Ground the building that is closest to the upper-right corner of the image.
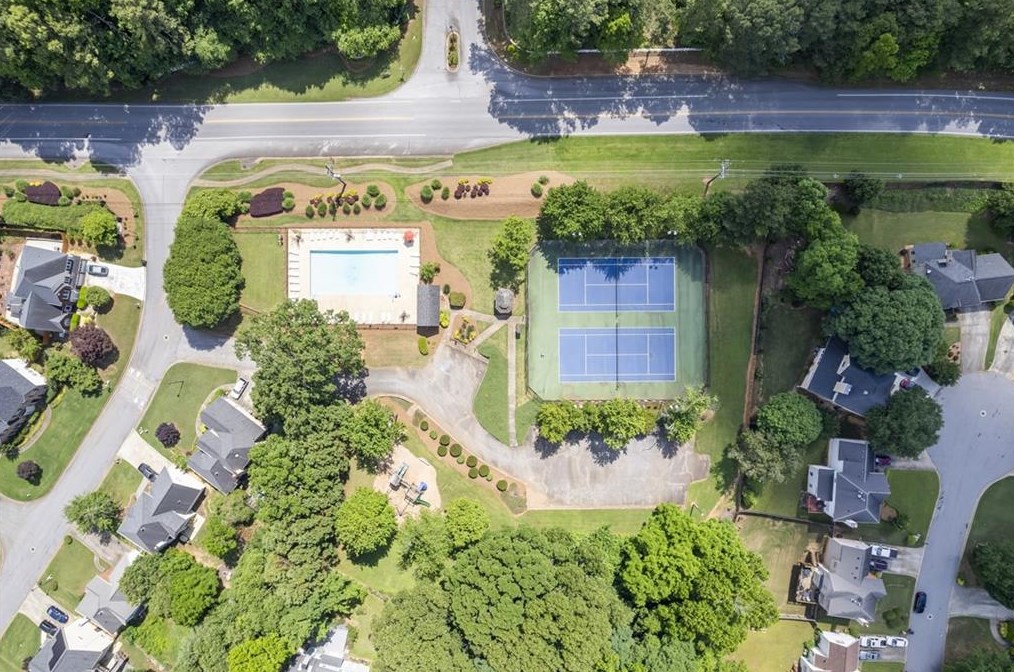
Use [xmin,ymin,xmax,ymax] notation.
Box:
[902,240,1014,311]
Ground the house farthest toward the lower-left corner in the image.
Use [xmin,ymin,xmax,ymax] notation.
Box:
[30,617,115,672]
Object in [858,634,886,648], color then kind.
white vehicle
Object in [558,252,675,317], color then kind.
blue tennis court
